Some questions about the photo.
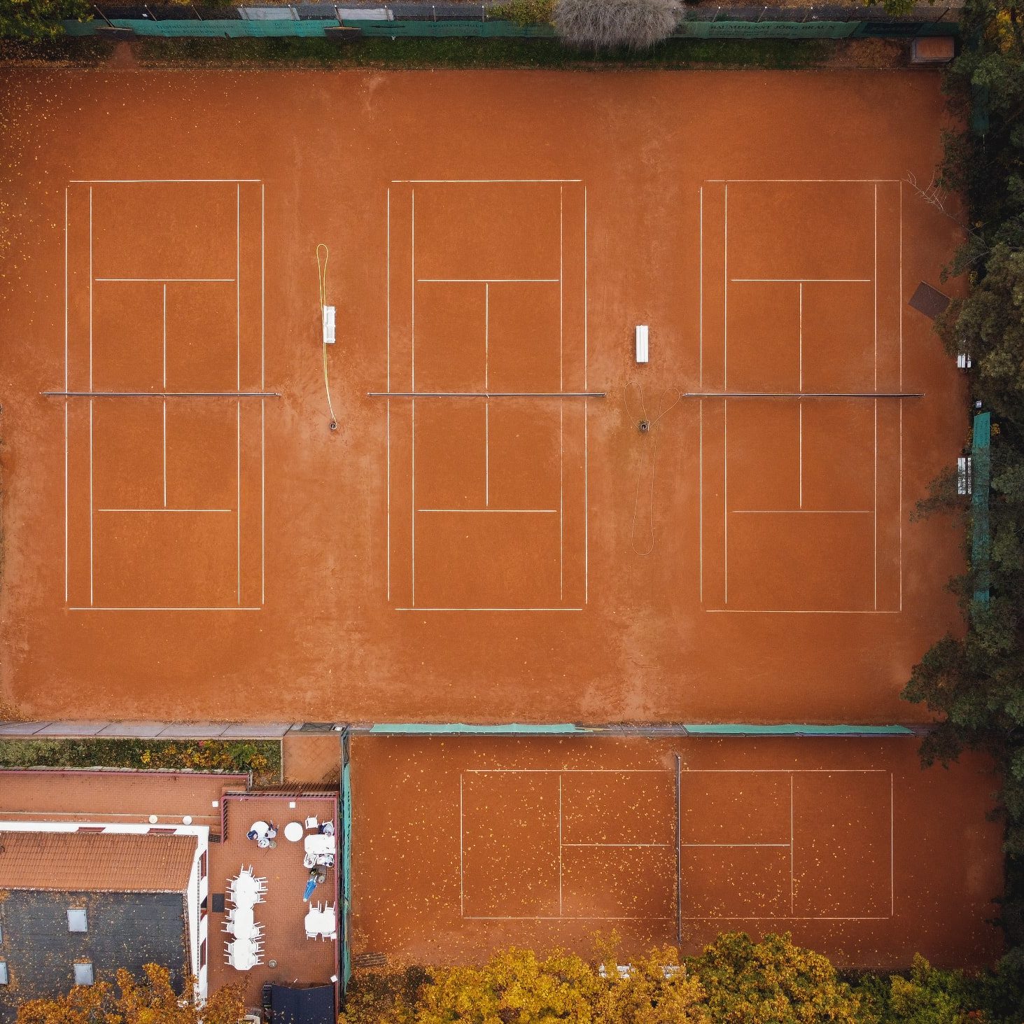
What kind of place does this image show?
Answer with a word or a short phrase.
sports ground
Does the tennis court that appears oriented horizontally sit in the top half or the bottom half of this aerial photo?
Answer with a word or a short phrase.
bottom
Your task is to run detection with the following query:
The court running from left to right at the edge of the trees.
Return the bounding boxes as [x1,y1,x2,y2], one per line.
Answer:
[350,724,1003,970]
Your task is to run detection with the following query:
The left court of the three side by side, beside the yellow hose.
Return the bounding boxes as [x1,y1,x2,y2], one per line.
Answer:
[0,69,329,724]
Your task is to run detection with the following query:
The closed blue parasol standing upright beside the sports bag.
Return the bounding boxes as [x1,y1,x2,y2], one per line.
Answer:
[302,872,320,900]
